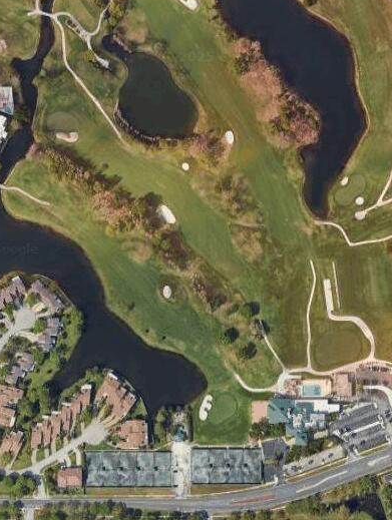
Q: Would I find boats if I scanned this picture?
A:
No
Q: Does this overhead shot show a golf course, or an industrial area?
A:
golf course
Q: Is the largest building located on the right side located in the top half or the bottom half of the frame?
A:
bottom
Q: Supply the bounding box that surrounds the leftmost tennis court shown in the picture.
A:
[85,452,103,487]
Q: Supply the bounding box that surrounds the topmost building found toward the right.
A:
[336,375,351,398]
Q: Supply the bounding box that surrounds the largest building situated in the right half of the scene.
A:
[267,398,340,445]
